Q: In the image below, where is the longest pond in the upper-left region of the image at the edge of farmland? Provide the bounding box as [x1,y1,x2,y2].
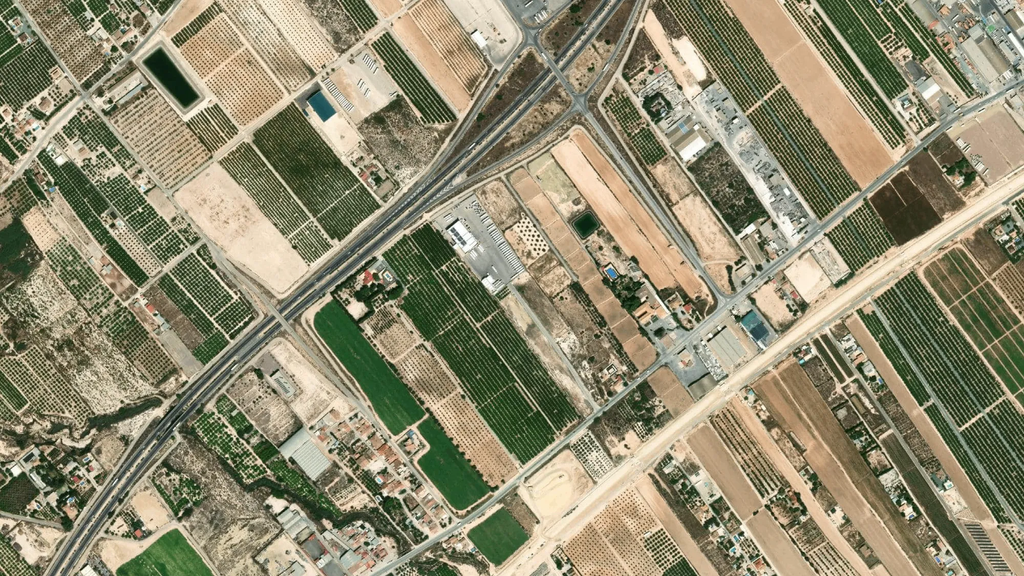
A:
[135,41,204,114]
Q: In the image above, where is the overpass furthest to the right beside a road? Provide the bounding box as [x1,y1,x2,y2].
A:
[530,39,582,104]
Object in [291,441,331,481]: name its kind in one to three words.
greenhouse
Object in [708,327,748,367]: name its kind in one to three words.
building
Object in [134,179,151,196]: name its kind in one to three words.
swimming pool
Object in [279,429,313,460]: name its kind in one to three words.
building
